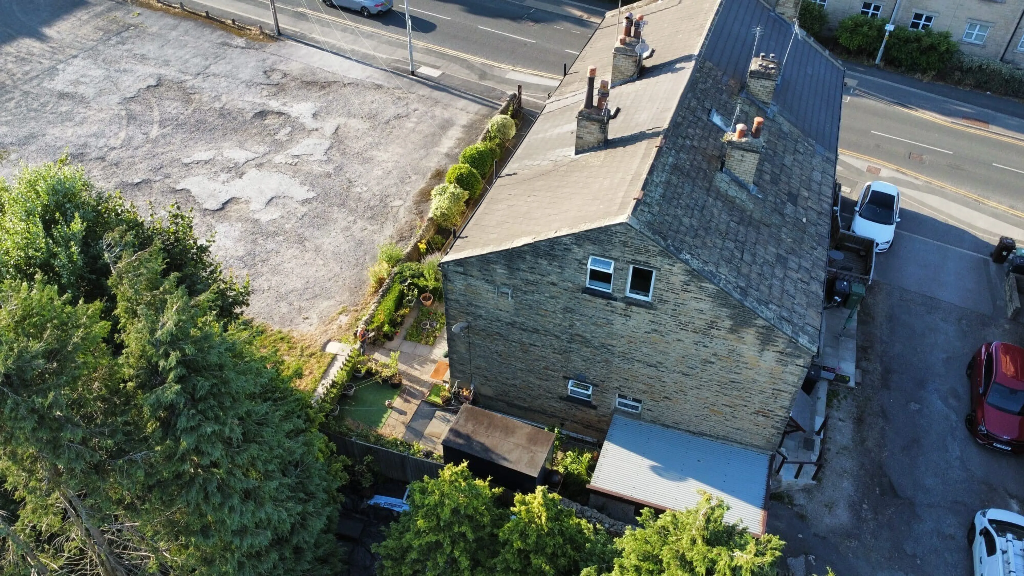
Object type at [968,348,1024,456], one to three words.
car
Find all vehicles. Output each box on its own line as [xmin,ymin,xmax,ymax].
[852,183,908,256]
[322,0,397,18]
[968,507,1024,576]
[968,348,1024,456]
